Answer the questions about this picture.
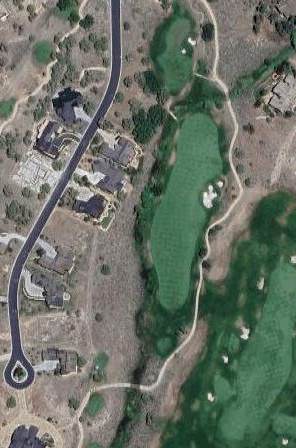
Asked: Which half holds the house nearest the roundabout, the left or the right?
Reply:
left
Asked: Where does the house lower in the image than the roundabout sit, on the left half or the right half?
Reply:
left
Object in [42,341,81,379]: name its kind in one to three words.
house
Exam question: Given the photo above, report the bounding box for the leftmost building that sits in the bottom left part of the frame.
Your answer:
[8,424,45,448]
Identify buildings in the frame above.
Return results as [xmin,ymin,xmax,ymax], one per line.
[8,424,45,448]
[105,135,140,165]
[42,341,81,379]
[73,193,114,230]
[262,67,296,116]
[41,245,77,273]
[31,269,70,308]
[34,118,65,158]
[94,160,124,187]
[53,88,83,117]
